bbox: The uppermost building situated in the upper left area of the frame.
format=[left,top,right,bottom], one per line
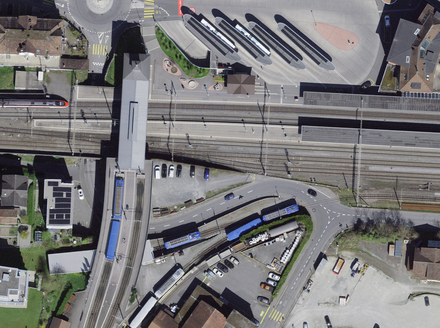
[0,16,64,56]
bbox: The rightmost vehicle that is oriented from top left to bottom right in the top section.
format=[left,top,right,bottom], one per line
[235,22,272,55]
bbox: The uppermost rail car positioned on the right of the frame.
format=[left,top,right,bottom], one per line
[262,204,300,223]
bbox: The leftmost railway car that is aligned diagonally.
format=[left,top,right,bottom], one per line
[128,298,157,328]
